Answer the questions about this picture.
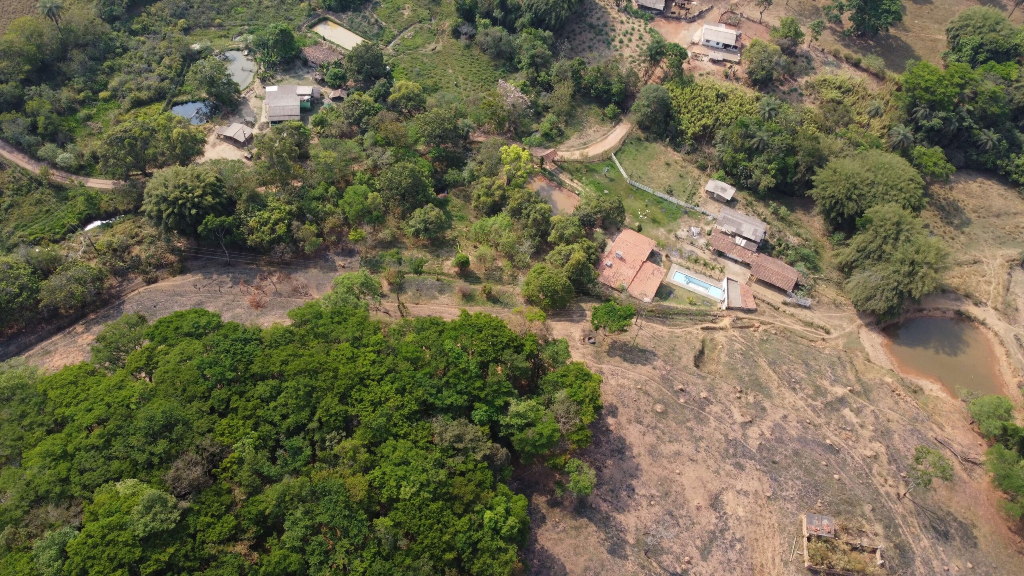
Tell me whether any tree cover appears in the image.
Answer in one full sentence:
Yes, tree cover shows up in the scene.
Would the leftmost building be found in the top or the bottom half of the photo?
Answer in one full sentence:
The top half of the photo is where the leftmost building is.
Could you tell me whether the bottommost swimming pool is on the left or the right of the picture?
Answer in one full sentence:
The bottommost swimming pool is on the right side of the image.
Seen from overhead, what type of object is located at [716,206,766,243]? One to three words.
building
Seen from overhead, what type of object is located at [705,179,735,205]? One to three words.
shed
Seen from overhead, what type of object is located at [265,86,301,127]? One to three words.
house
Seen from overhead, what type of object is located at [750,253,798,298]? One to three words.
barn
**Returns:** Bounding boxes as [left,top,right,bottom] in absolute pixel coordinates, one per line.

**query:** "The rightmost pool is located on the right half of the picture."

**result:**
[665,263,724,303]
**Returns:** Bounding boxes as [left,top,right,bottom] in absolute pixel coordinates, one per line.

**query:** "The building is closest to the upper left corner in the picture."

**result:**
[216,123,254,149]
